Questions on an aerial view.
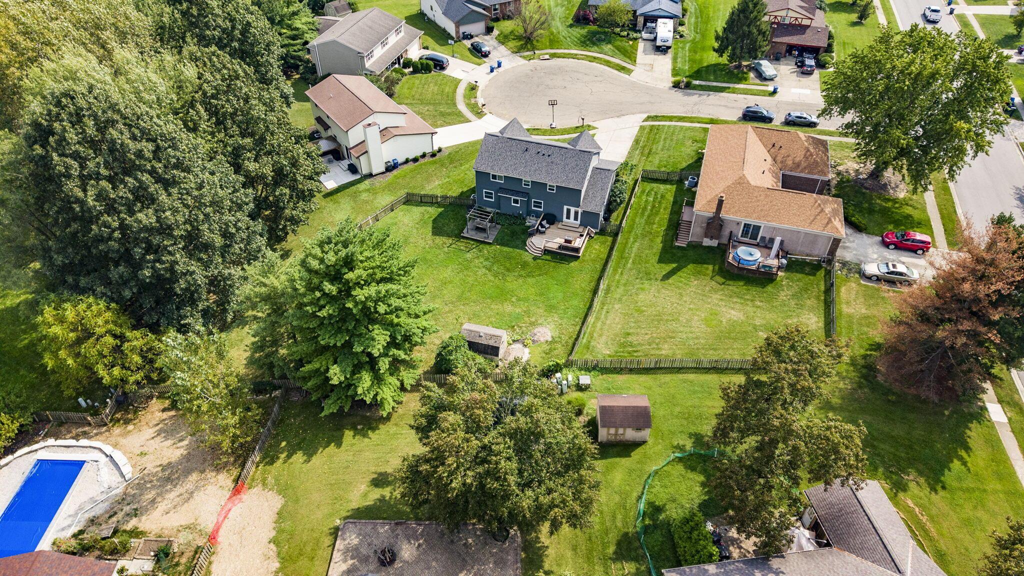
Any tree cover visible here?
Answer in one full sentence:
Yes, the picture does contain tree cover.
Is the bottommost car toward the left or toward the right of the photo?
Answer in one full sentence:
The bottommost car is on the right side of the image.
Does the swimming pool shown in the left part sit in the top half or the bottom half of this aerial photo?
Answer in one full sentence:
You can find the swimming pool shown in the left part in the bottom half.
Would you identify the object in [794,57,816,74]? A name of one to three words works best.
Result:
car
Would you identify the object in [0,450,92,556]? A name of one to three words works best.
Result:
swimming pool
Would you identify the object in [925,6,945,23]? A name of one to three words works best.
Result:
vehicle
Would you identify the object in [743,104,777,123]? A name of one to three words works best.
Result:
car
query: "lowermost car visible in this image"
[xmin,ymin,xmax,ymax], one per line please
[864,262,923,287]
